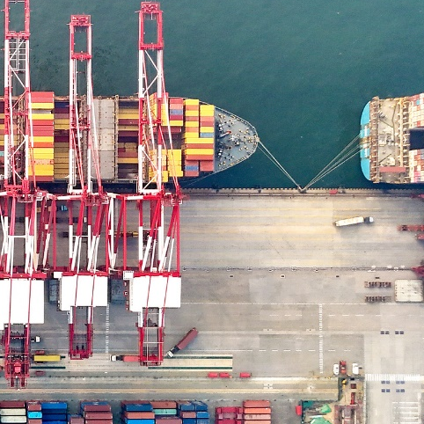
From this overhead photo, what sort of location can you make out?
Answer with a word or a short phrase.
port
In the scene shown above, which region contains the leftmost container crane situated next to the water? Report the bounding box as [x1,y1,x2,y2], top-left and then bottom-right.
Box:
[0,0,48,390]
